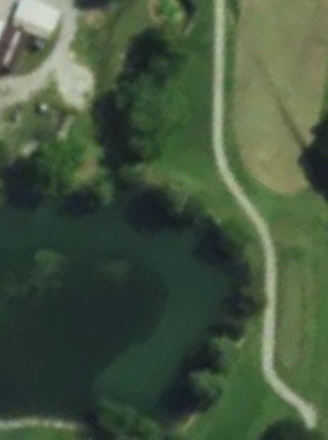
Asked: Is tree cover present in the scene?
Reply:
Yes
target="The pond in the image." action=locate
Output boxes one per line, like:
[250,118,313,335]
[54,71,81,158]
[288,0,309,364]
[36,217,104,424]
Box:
[0,192,238,420]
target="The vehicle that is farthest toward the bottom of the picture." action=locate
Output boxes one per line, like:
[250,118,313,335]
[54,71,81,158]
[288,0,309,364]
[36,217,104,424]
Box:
[36,100,49,117]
